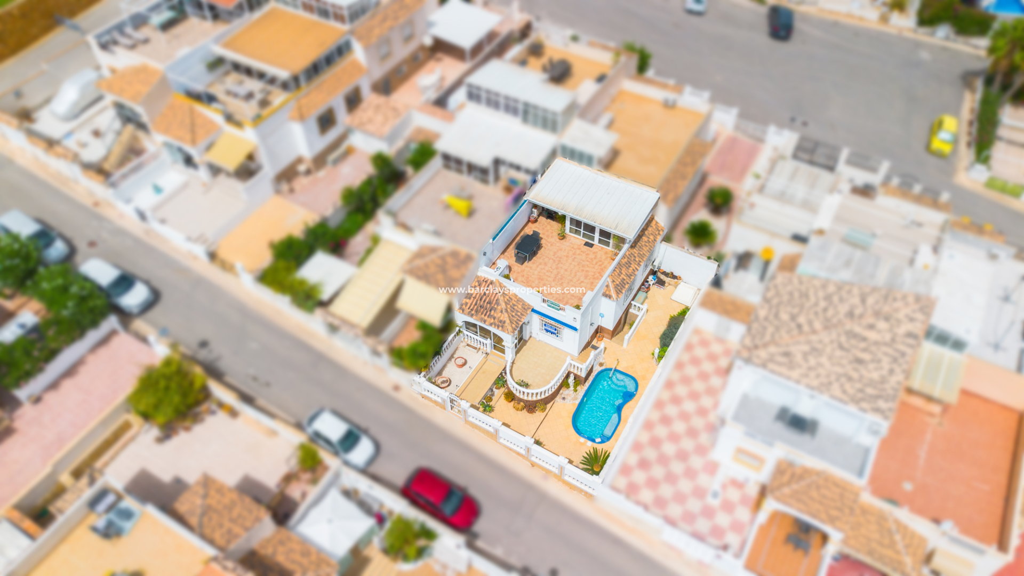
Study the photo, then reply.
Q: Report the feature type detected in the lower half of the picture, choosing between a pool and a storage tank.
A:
pool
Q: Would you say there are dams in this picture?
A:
No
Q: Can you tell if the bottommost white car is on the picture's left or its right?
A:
left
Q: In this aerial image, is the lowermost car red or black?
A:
red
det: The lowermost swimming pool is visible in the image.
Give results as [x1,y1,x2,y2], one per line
[572,355,637,443]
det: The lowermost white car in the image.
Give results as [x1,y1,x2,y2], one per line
[299,409,377,472]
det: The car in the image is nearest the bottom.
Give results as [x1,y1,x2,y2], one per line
[397,468,476,534]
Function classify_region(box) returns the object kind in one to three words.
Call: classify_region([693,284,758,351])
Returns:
shed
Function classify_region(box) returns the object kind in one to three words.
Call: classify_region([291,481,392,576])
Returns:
tent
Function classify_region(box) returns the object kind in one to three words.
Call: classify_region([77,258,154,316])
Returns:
car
